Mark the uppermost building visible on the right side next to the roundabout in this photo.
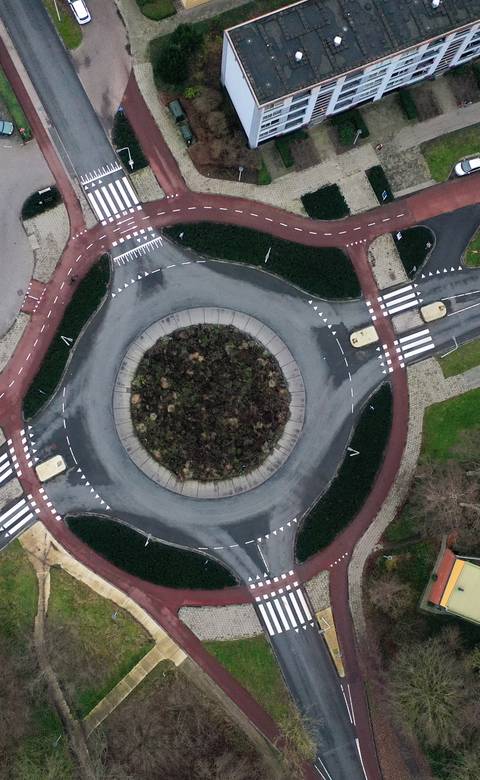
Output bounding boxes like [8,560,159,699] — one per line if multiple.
[219,0,480,149]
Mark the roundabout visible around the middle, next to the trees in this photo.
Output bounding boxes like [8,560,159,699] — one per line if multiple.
[22,229,392,584]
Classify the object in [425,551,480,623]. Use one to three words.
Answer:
house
